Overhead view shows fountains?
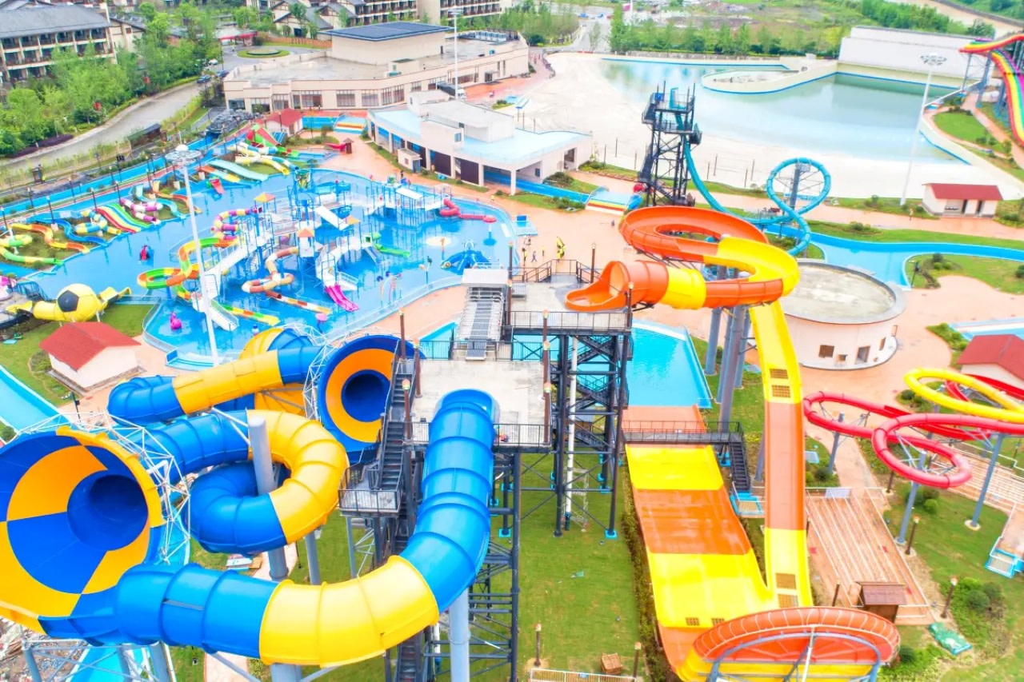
Yes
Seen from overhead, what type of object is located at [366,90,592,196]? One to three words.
house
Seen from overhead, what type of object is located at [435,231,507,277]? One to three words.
fountain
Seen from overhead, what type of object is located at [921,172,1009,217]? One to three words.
shed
